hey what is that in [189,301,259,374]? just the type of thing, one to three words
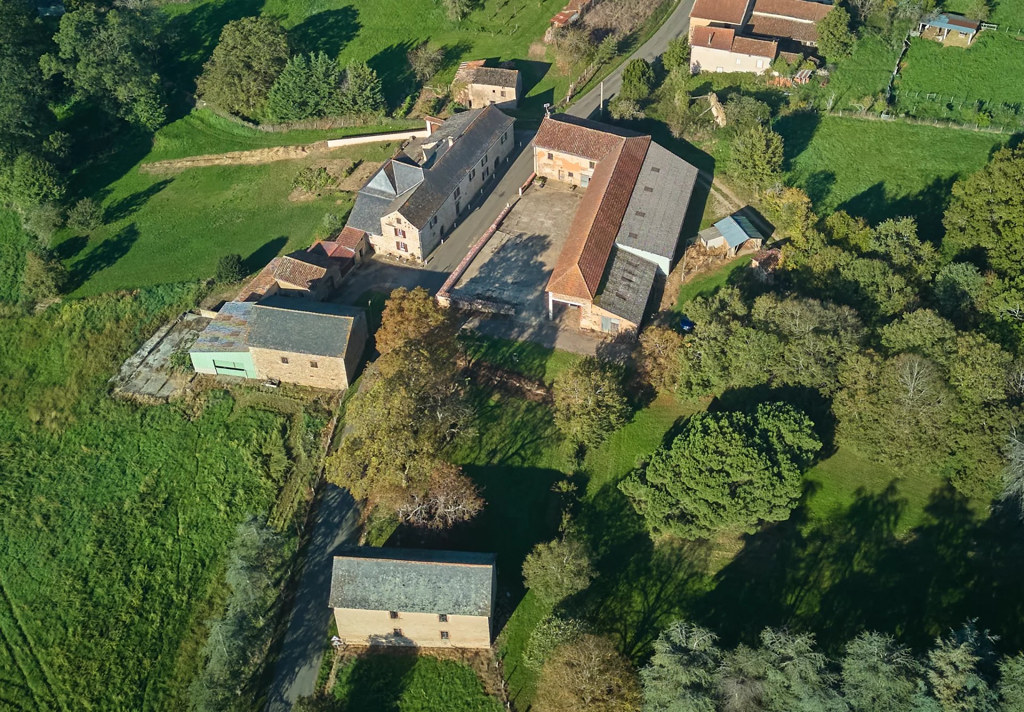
shed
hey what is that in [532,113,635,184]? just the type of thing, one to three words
house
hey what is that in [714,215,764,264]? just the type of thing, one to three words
shed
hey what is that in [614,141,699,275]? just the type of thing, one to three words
barn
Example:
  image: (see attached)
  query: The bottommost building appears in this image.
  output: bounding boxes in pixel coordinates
[329,545,498,648]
